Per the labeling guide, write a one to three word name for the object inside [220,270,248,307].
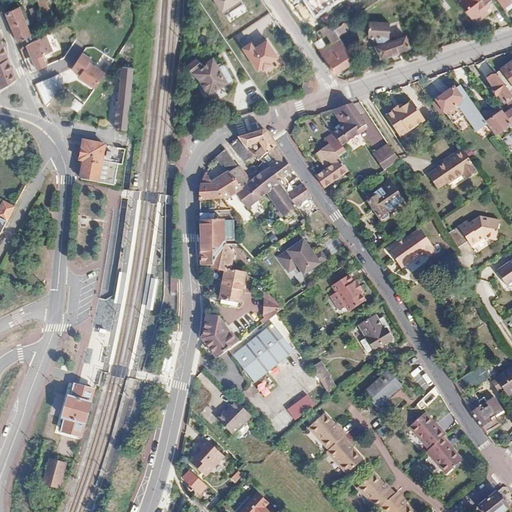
house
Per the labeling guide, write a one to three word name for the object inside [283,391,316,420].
building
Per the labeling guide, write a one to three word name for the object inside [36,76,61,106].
shed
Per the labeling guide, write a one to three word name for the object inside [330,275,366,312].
house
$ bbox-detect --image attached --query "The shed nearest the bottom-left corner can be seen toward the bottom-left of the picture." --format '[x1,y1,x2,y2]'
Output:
[45,458,67,489]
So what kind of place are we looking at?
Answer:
residential area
